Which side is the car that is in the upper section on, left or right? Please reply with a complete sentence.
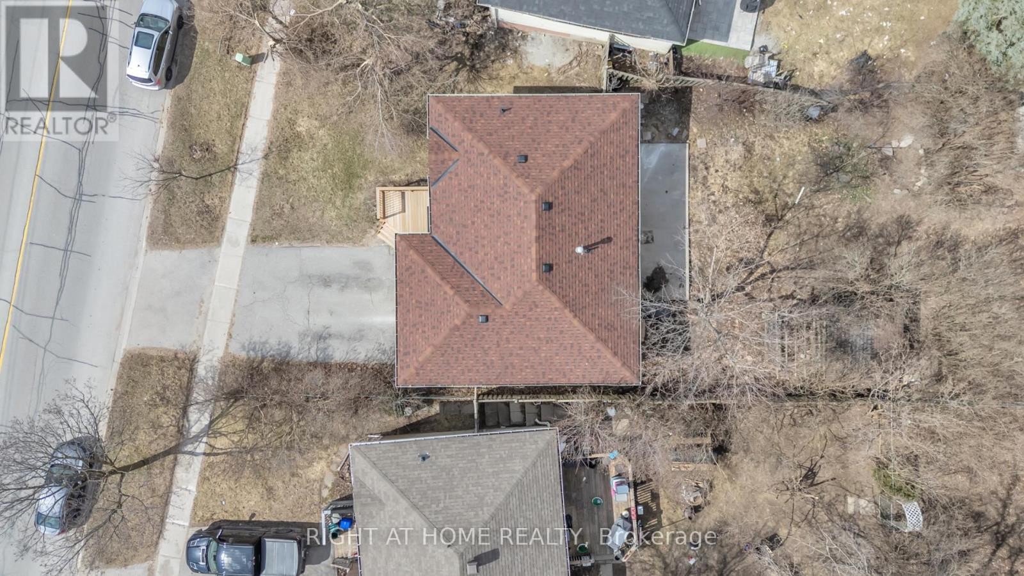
The car that is in the upper section is on the left side of the image.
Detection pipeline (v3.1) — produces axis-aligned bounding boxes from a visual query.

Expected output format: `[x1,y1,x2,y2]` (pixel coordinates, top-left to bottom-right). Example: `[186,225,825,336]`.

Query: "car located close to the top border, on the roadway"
[124,0,183,92]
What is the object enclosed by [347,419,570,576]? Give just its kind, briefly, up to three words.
house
